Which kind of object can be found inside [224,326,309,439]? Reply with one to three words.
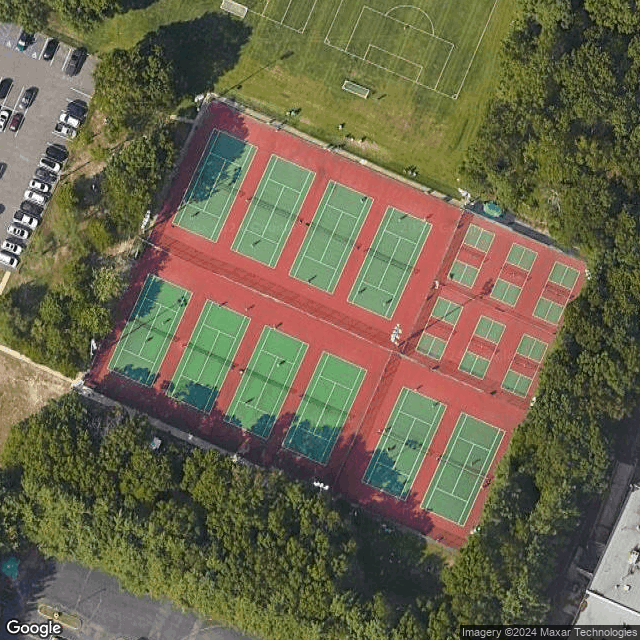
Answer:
tennis court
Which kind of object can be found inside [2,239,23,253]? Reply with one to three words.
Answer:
car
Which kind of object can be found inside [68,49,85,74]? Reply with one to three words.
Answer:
vehicle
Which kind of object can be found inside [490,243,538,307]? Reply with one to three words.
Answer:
sports court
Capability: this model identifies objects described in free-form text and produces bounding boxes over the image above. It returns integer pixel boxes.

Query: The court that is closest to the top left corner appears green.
[172,129,258,242]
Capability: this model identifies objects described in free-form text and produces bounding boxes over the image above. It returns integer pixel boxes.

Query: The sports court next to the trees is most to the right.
[532,261,581,326]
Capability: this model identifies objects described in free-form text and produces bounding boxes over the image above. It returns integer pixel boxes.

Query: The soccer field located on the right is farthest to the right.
[324,0,498,99]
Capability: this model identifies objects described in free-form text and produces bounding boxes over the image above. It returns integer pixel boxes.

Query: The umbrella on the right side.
[484,202,501,216]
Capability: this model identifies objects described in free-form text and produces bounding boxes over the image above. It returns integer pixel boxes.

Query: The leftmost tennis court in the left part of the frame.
[108,274,193,388]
